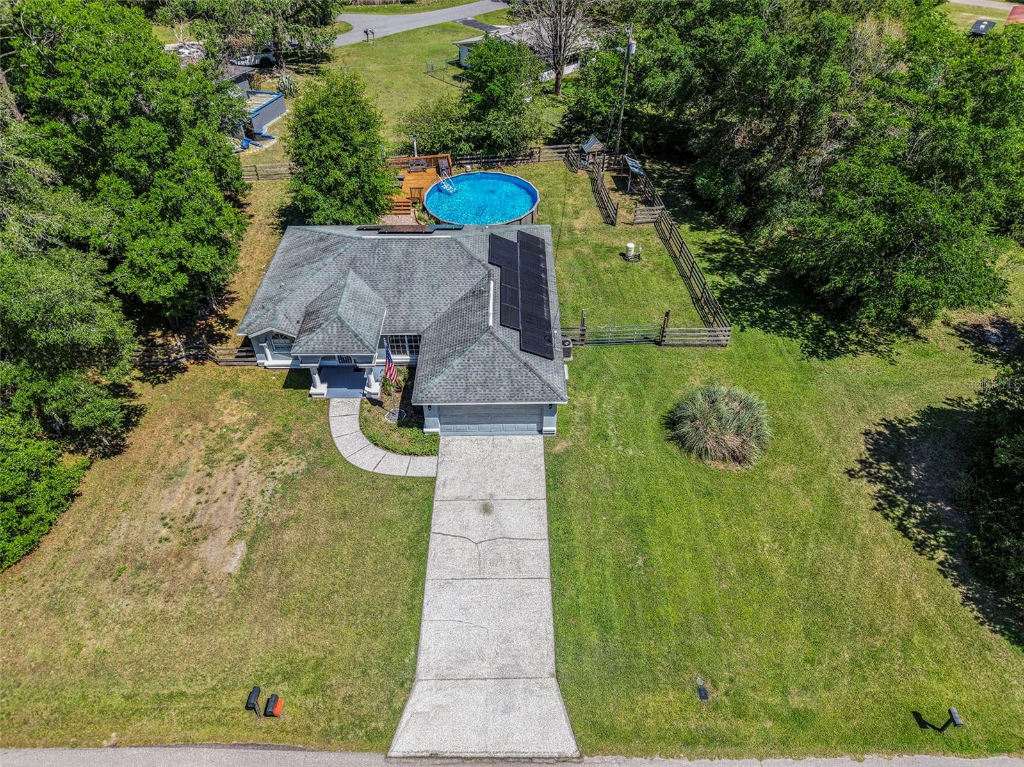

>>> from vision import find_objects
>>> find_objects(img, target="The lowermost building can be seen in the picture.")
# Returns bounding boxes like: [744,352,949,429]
[238,224,567,436]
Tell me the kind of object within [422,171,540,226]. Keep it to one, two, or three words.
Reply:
swimming pool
